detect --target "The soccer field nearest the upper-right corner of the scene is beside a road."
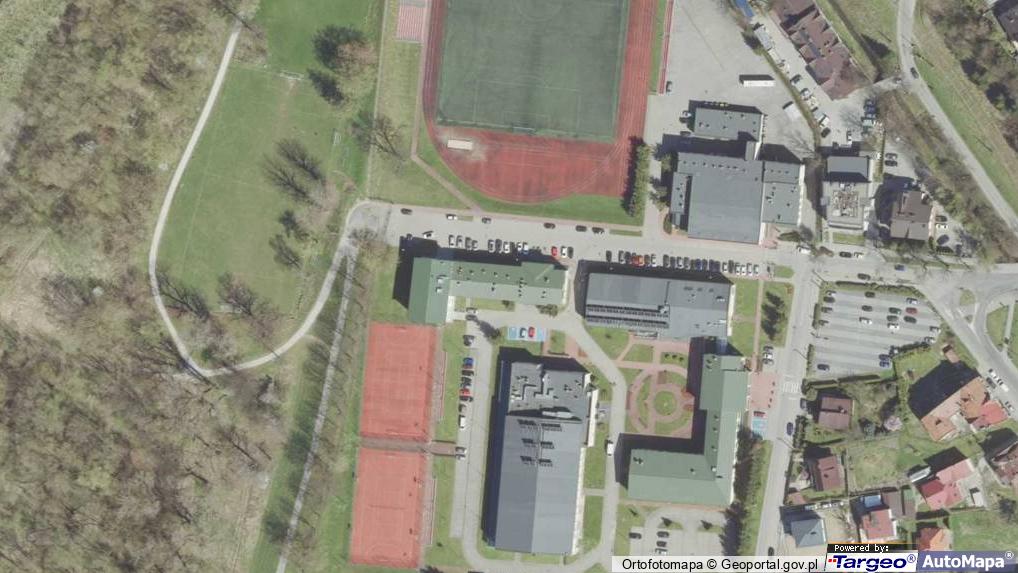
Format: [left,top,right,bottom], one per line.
[436,0,627,142]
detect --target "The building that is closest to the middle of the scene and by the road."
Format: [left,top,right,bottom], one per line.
[409,258,570,324]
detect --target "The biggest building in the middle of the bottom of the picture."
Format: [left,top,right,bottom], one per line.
[495,362,594,554]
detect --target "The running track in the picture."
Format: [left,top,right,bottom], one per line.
[422,0,657,204]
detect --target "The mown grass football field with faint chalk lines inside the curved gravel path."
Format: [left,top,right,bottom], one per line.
[176,62,345,316]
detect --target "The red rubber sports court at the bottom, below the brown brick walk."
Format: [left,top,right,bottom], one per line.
[351,449,424,568]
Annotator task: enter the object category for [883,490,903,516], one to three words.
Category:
shed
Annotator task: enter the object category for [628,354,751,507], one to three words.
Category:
building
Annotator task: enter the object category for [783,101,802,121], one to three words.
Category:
vehicle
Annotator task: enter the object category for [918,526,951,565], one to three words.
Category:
house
